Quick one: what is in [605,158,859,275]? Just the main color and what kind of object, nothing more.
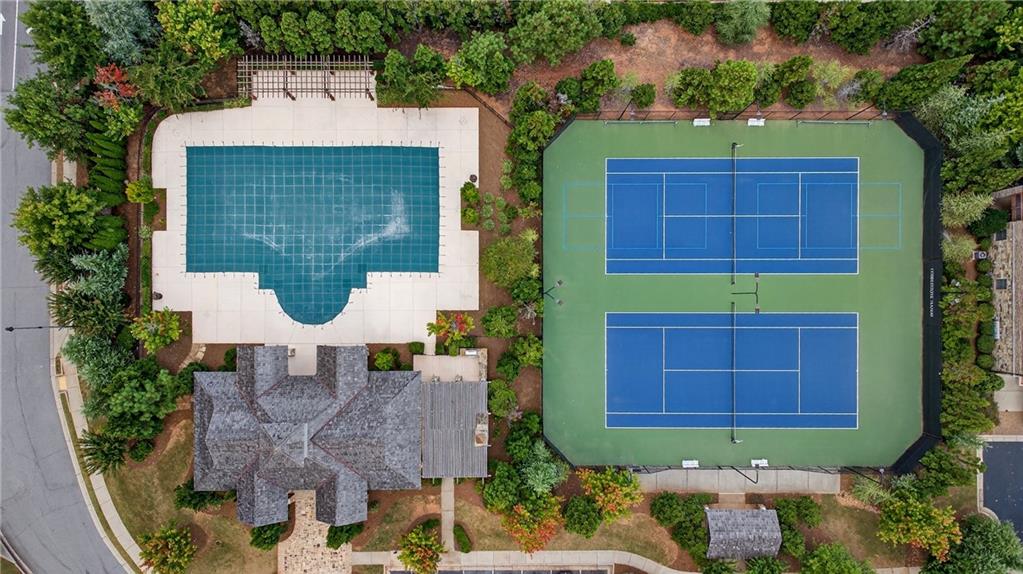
blue tennis court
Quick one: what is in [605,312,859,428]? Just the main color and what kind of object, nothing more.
blue tennis court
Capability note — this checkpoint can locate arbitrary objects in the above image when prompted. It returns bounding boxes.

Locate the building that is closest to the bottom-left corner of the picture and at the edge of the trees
[193,345,422,527]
